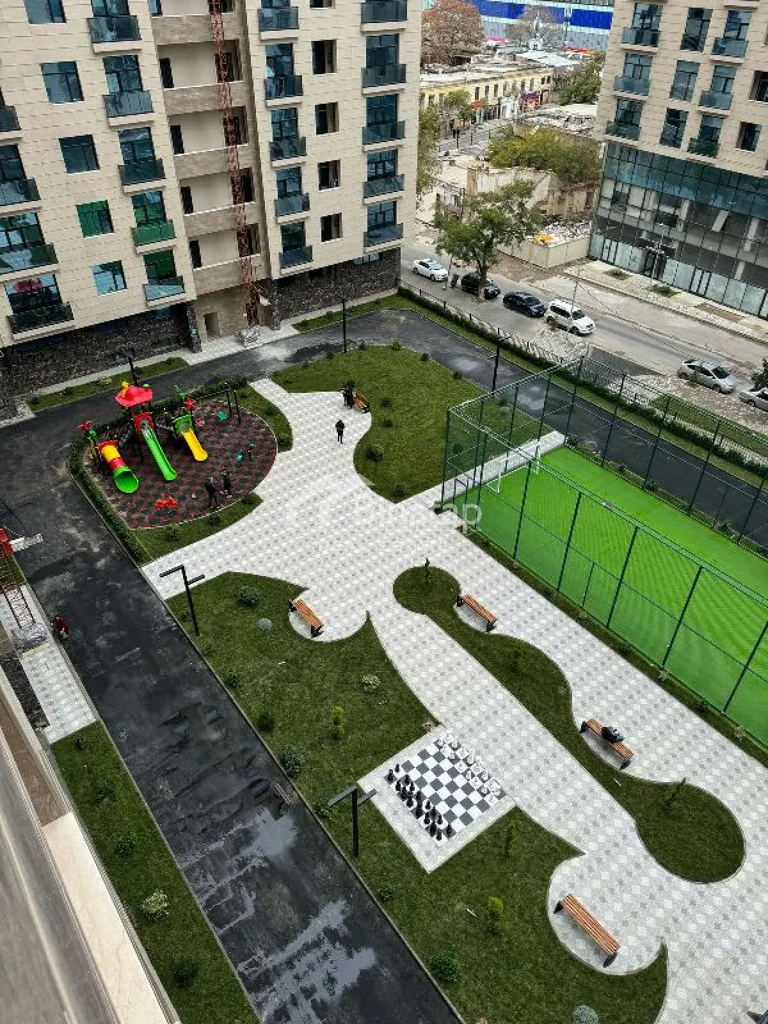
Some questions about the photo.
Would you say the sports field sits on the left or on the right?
right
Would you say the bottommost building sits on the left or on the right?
left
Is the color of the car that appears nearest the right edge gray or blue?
gray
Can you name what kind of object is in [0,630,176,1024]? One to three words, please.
building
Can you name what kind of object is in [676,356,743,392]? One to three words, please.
car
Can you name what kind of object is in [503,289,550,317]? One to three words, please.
car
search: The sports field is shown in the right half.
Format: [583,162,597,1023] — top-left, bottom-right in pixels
[448,443,768,738]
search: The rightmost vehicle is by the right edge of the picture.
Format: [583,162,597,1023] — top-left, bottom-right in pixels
[741,384,768,413]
